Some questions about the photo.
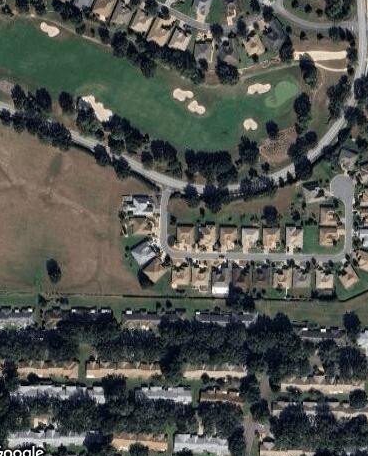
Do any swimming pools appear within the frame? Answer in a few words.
No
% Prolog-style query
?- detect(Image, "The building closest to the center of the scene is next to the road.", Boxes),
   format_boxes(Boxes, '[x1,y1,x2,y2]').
[178,224,195,251]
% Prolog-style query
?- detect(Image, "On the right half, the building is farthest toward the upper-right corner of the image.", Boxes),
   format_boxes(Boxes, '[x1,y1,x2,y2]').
[259,19,291,46]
